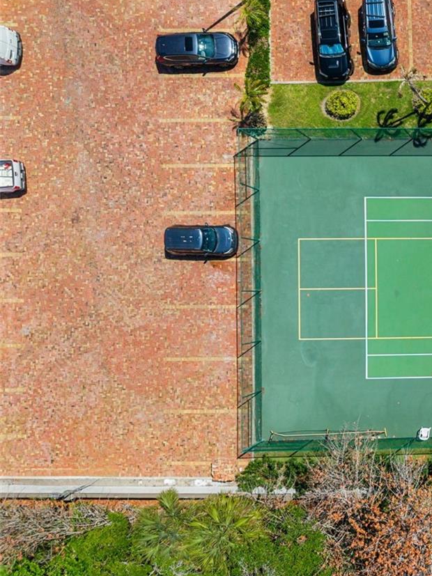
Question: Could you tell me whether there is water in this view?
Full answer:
No, there is no water in the image.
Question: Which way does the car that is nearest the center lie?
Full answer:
Seen from above, the car that is nearest the center lies from left to right.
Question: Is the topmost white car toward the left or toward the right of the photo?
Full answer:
The topmost white car sits on the left side.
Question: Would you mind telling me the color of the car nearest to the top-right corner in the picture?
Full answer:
The color of the car nearest to the top-right corner is blue.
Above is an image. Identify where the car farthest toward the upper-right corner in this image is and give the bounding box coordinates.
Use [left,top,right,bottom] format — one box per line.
[359,0,398,70]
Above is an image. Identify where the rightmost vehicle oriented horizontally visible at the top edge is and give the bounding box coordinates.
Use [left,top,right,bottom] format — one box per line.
[156,26,240,68]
